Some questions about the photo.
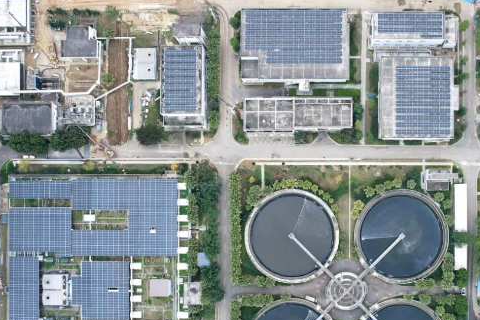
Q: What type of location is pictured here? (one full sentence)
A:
The picture captures an industrial area.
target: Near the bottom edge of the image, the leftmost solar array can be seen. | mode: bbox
[9,257,38,320]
